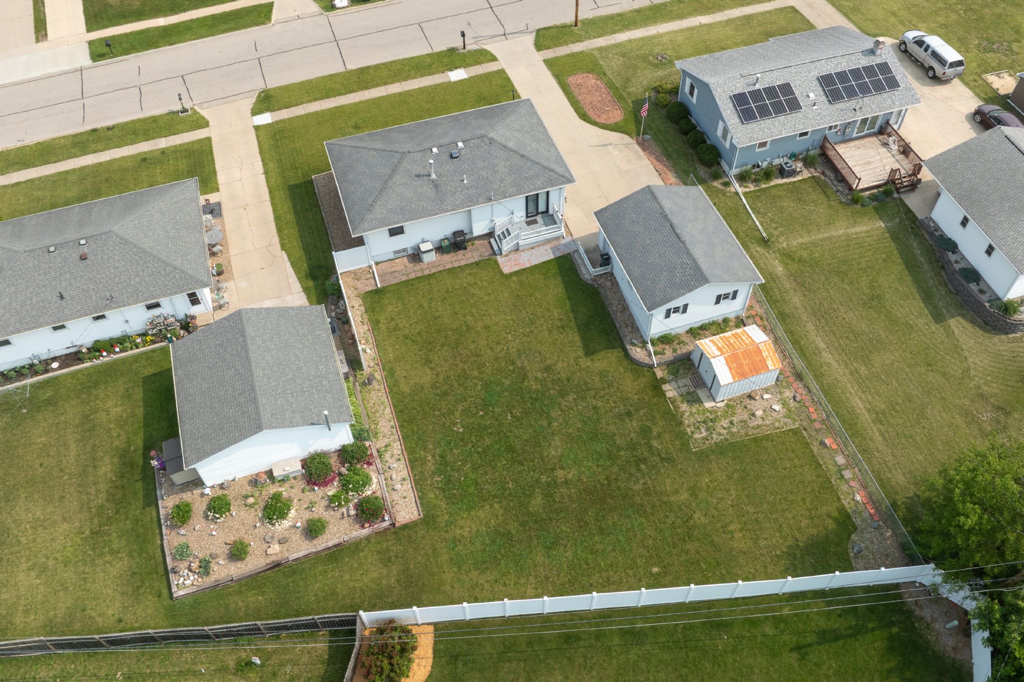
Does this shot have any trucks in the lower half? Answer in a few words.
No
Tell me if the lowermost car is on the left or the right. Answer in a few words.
right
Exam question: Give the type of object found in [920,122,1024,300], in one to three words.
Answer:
house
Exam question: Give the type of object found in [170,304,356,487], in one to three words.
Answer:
building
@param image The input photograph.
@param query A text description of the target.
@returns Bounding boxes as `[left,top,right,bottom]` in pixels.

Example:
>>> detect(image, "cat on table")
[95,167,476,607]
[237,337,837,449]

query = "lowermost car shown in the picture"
[972,97,1024,127]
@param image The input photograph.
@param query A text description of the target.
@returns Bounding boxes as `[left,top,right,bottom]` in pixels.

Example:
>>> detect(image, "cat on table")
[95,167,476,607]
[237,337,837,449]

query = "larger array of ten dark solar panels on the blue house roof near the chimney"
[819,61,900,103]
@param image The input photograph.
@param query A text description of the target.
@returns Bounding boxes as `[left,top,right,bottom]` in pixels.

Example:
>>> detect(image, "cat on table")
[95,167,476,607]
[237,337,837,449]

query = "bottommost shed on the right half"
[694,326,782,402]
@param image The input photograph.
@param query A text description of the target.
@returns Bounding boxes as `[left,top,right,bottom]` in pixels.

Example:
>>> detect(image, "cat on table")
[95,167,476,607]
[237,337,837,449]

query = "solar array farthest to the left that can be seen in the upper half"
[731,82,802,123]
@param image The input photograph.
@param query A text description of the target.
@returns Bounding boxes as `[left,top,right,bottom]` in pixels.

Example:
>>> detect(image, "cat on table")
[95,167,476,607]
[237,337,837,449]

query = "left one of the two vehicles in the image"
[898,33,964,83]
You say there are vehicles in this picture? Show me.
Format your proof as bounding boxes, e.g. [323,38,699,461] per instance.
[972,97,1024,127]
[898,33,964,83]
